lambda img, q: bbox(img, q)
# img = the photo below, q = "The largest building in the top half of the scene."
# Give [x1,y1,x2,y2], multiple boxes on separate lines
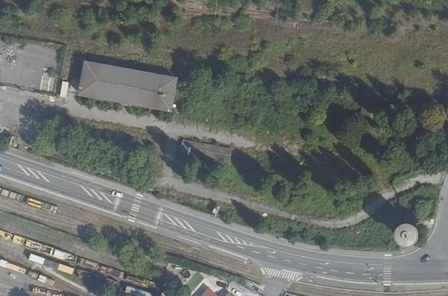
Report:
[77,60,177,111]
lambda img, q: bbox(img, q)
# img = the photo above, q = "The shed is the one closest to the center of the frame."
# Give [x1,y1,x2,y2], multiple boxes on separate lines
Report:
[182,139,232,161]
